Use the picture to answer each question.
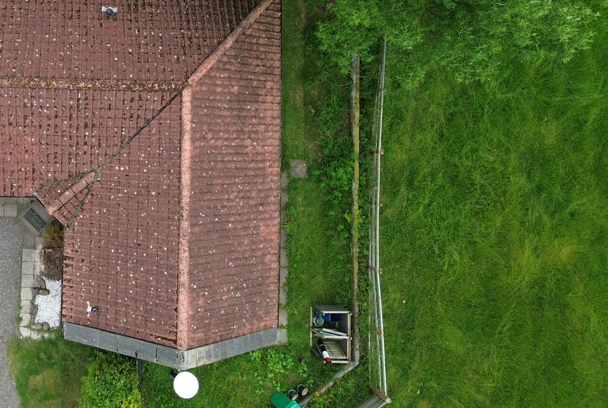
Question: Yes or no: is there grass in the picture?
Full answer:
Yes, grass can be seen from above here.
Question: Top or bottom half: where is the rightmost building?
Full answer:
It is in the bottom half that the rightmost building appears.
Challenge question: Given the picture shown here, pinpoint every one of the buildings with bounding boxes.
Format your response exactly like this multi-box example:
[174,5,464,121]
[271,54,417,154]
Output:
[0,0,283,369]
[310,303,352,362]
